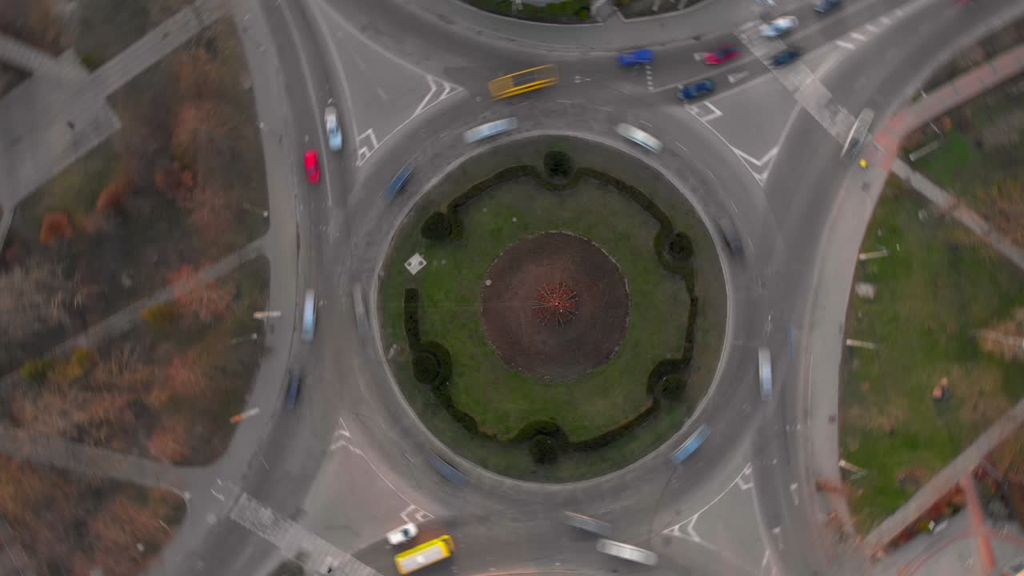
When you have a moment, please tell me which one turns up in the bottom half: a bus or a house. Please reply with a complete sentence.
It is a bus that can be seen in the bottom half.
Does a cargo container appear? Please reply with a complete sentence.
No, there isn't any cargo container down there.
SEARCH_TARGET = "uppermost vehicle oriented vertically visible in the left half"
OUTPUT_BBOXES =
[322,106,344,151]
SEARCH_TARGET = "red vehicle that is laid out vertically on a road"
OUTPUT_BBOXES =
[303,149,322,184]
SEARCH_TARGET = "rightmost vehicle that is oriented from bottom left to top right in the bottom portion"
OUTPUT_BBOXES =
[669,424,710,464]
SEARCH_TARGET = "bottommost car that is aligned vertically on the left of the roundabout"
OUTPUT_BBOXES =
[283,368,304,407]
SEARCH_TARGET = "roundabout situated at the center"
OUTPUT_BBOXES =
[303,0,802,576]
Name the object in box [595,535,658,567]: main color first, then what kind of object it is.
white vehicle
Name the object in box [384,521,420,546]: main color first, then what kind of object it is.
white car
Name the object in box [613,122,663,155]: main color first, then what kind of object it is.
white vehicle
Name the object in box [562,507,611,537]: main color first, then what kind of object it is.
gray van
